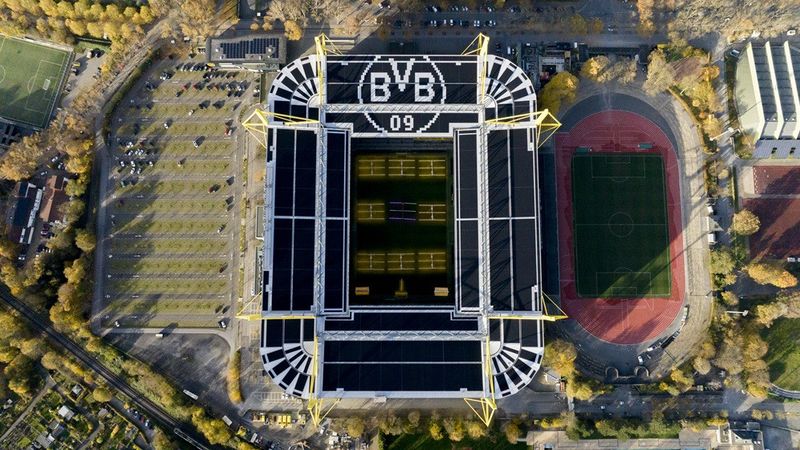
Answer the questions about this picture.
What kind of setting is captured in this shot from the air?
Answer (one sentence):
It's a sports ground.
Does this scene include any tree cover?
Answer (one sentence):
Yes, there is tree cover in the image.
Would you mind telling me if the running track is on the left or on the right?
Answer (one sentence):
The running track appears in the right half of the scene.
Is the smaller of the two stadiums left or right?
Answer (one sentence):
It is on the right.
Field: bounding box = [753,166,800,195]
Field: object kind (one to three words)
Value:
sports court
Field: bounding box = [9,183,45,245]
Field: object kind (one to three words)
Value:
building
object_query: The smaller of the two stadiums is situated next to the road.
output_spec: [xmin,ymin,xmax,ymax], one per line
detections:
[552,87,714,379]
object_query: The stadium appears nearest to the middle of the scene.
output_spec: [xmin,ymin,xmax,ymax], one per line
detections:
[235,31,570,423]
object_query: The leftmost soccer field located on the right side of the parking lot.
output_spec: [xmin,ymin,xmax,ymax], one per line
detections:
[350,145,454,309]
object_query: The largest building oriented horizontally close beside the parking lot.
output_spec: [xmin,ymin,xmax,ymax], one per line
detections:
[207,34,289,72]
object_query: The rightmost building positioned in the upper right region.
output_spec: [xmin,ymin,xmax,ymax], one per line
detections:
[731,41,800,159]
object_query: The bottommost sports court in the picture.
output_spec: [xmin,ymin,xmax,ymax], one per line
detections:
[742,198,800,260]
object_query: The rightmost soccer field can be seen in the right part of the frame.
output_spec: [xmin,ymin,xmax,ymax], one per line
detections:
[573,154,671,298]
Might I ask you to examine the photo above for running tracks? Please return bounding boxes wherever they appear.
[574,110,686,345]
